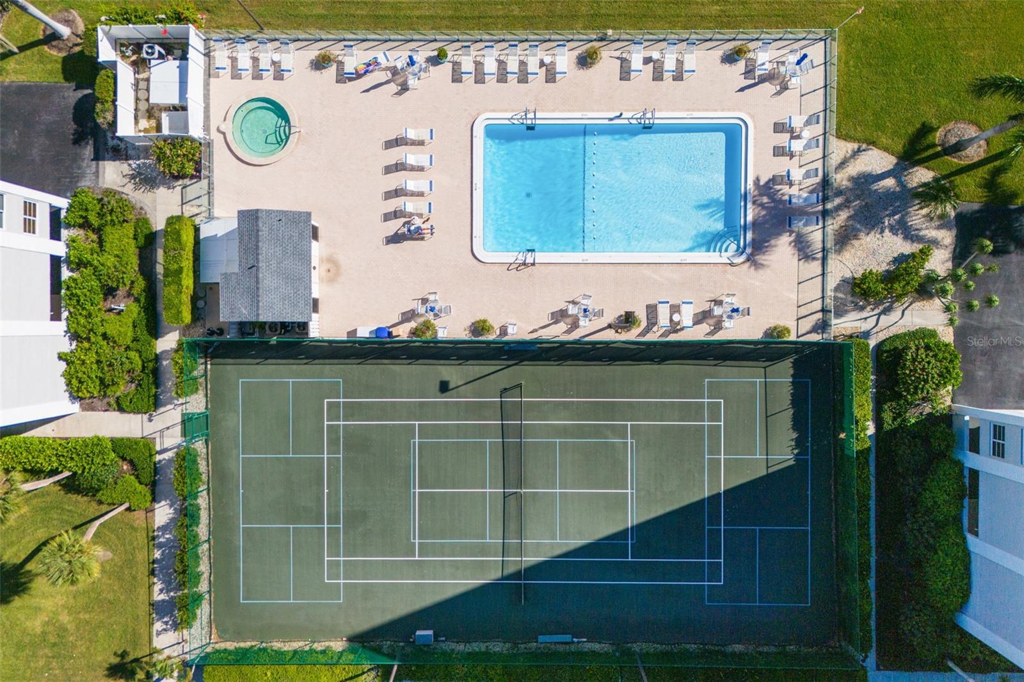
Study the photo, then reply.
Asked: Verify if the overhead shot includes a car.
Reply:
No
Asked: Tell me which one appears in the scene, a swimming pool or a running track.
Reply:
swimming pool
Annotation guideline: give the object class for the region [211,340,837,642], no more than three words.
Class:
tennis court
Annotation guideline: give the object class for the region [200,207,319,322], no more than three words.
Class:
building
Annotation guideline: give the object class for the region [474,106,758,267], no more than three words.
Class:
swimming pool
